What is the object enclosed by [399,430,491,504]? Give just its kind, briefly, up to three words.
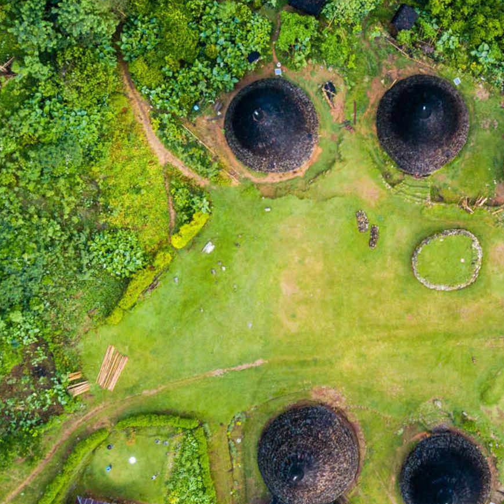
house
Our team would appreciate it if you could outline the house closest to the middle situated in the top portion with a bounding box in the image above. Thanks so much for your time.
[223,78,319,173]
